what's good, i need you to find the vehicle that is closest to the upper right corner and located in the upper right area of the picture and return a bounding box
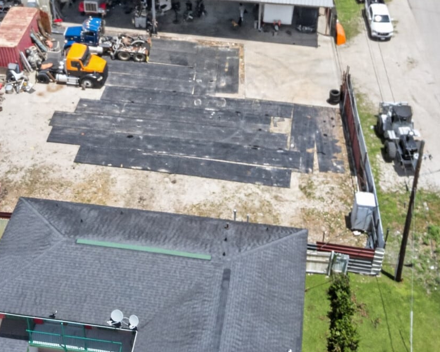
[365,0,401,41]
